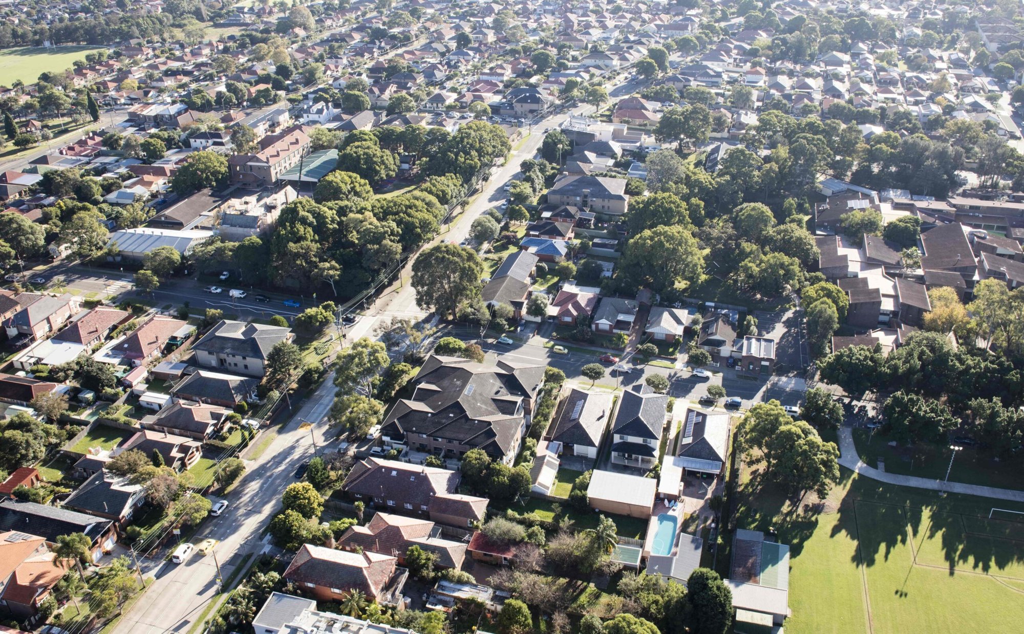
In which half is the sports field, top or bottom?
bottom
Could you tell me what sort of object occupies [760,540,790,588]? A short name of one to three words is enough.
shed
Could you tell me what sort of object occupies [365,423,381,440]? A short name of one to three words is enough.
vehicle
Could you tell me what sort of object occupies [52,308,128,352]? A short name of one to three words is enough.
house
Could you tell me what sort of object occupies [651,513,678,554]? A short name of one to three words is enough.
swimming pool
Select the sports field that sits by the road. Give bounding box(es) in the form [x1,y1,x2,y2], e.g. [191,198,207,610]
[710,416,1024,634]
